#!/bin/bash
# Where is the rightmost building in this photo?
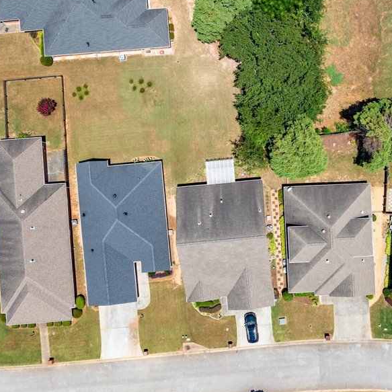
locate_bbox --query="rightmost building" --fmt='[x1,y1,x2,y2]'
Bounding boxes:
[283,183,375,296]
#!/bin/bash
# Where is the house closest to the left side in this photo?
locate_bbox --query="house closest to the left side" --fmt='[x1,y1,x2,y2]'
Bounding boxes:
[0,137,78,326]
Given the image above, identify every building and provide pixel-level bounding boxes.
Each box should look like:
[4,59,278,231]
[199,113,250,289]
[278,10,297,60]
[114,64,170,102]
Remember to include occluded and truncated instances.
[76,160,171,306]
[176,180,274,310]
[0,0,170,58]
[0,137,78,326]
[283,183,375,296]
